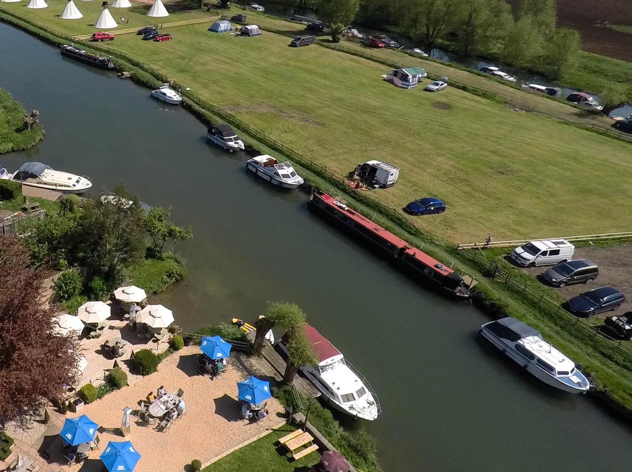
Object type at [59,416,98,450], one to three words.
umbrella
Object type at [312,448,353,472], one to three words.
umbrella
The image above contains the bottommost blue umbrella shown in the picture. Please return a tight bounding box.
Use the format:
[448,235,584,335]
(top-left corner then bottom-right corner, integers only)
[98,441,142,472]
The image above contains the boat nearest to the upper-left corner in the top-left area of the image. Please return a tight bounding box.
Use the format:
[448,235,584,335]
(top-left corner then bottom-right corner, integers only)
[60,46,112,63]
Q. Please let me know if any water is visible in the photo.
Yes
